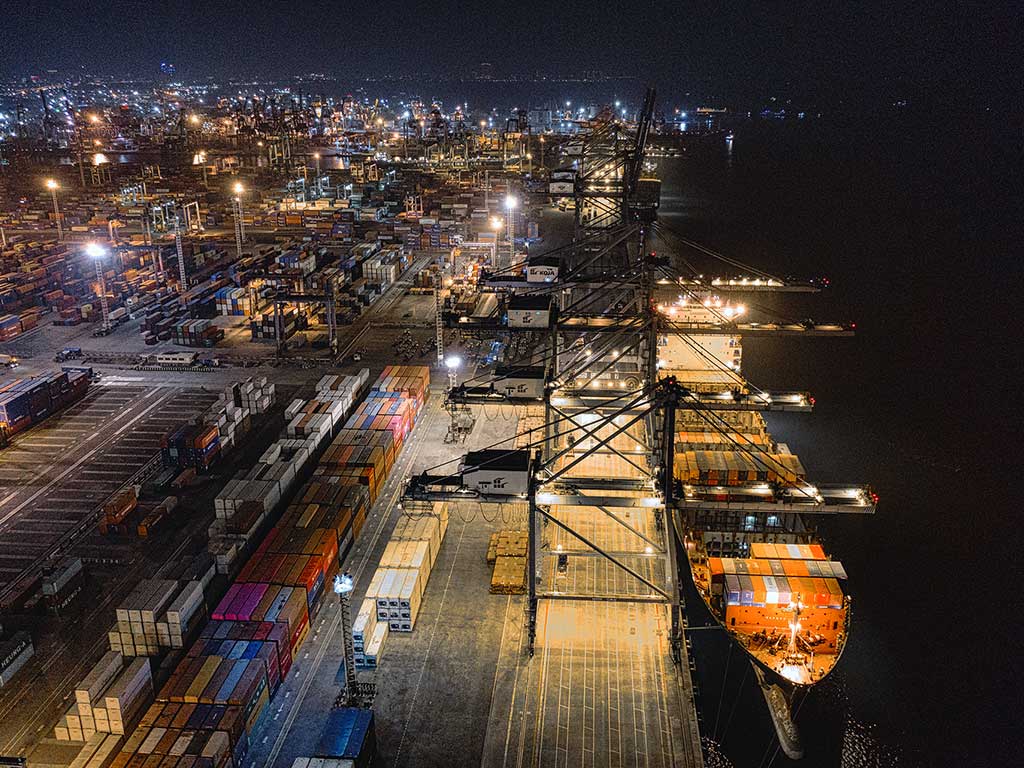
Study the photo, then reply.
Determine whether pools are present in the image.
No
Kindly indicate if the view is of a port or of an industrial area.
port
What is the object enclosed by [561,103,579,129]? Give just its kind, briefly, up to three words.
building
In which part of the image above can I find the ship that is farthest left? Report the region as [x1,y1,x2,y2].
[71,134,136,150]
